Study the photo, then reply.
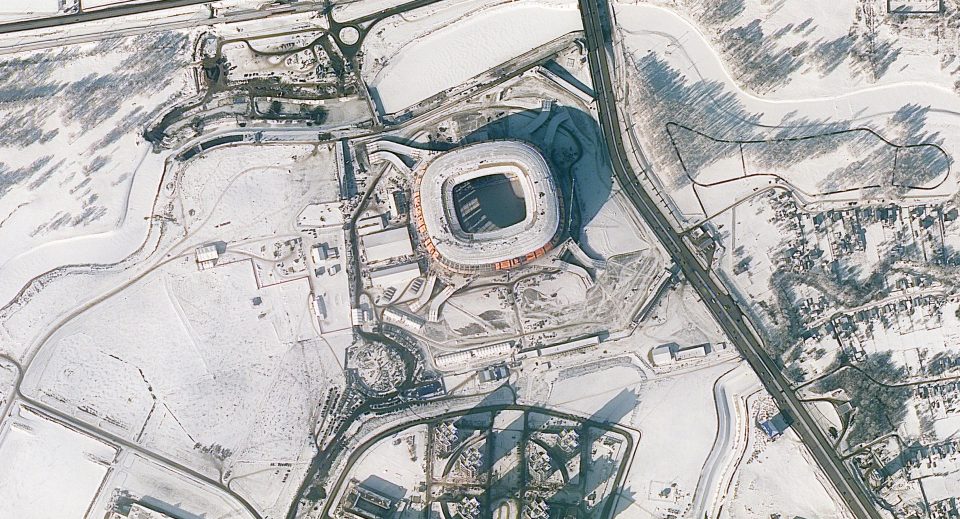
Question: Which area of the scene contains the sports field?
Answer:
center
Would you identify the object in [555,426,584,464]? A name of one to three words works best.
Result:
building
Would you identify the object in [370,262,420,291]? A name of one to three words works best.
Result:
building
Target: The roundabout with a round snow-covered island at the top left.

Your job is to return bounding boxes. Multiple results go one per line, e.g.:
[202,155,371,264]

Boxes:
[332,20,365,51]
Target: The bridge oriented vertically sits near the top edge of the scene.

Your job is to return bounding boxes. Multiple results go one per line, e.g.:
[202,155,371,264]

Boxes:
[578,0,608,74]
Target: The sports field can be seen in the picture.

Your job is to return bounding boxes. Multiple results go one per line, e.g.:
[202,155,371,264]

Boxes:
[452,183,527,235]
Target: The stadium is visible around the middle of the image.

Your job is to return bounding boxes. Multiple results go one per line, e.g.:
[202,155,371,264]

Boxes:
[409,139,562,284]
